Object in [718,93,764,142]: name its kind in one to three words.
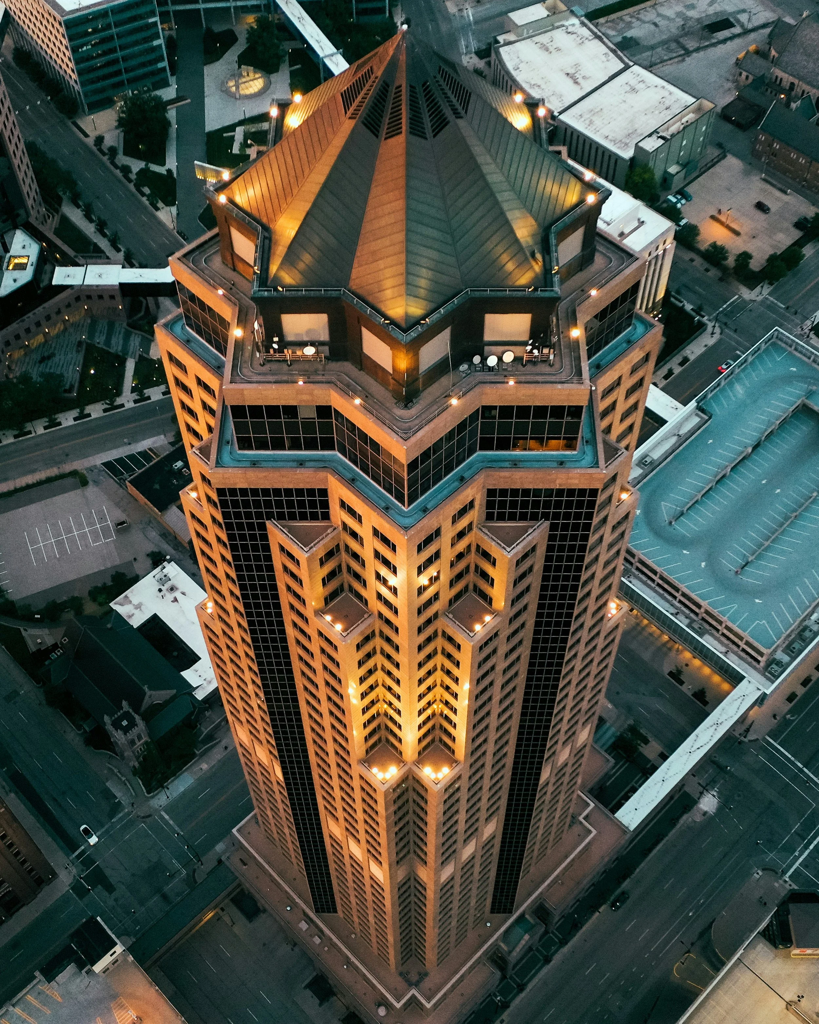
building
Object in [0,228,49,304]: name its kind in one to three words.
building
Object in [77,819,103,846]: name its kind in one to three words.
car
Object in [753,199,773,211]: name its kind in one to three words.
vehicle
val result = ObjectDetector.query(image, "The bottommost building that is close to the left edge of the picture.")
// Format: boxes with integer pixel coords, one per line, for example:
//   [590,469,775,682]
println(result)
[1,918,186,1024]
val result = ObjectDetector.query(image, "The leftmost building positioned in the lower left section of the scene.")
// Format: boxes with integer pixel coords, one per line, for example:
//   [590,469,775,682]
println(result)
[0,803,55,922]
